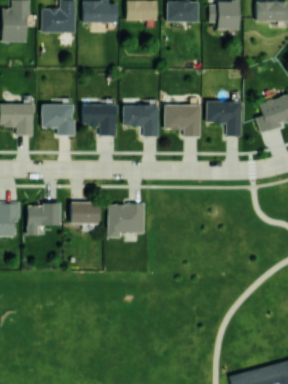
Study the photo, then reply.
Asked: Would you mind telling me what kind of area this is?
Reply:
residential area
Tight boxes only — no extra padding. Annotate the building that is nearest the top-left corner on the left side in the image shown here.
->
[2,0,30,43]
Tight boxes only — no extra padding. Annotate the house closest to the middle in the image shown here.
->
[107,204,146,239]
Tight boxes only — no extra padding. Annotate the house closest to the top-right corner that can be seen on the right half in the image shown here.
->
[256,0,288,22]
